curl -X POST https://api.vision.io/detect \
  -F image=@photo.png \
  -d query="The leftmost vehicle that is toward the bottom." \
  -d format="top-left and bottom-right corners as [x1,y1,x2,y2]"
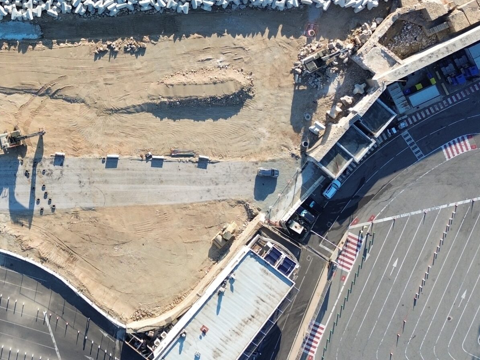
[212,222,235,250]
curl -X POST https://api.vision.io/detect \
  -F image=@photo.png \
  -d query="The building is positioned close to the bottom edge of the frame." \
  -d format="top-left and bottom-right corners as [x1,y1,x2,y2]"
[153,232,301,360]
